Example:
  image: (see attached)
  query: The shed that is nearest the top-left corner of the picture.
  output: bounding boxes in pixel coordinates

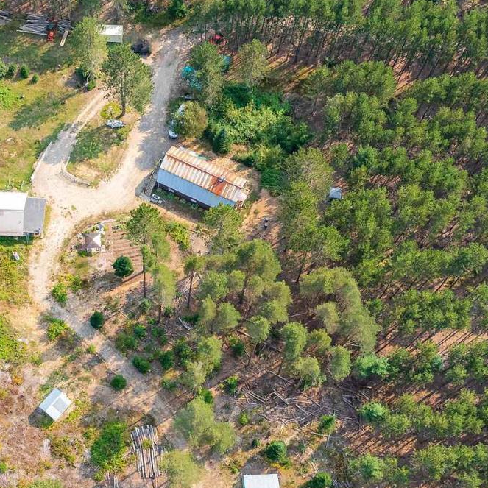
[99,24,122,51]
